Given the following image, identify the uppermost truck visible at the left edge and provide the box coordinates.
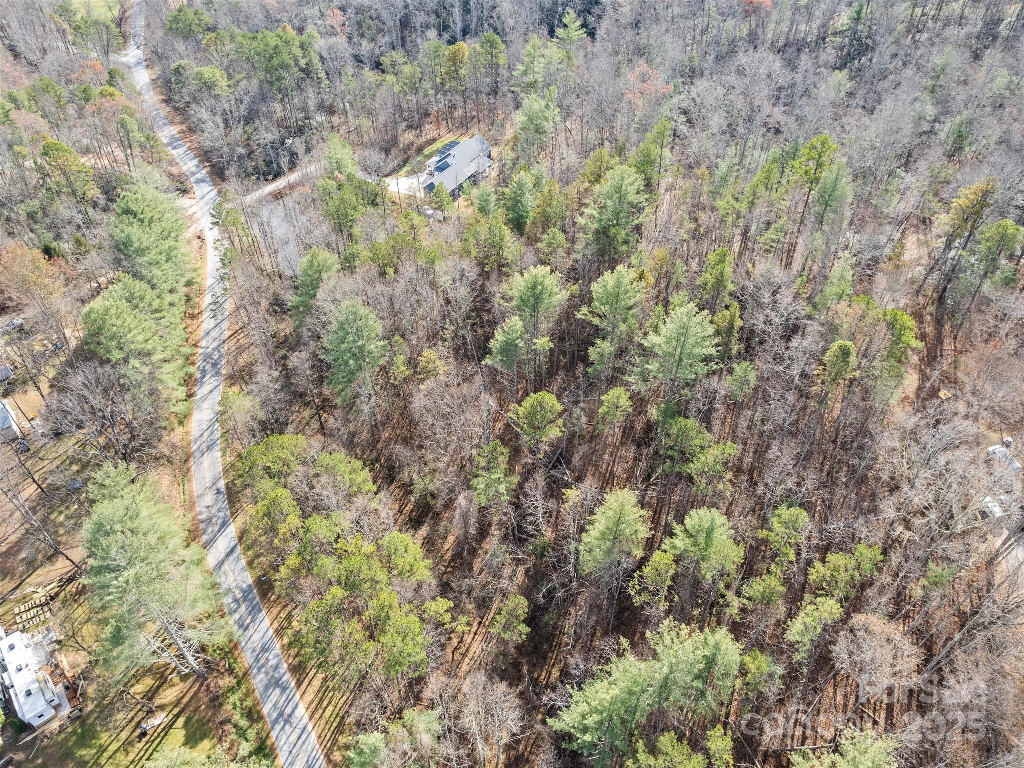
[0,314,26,335]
